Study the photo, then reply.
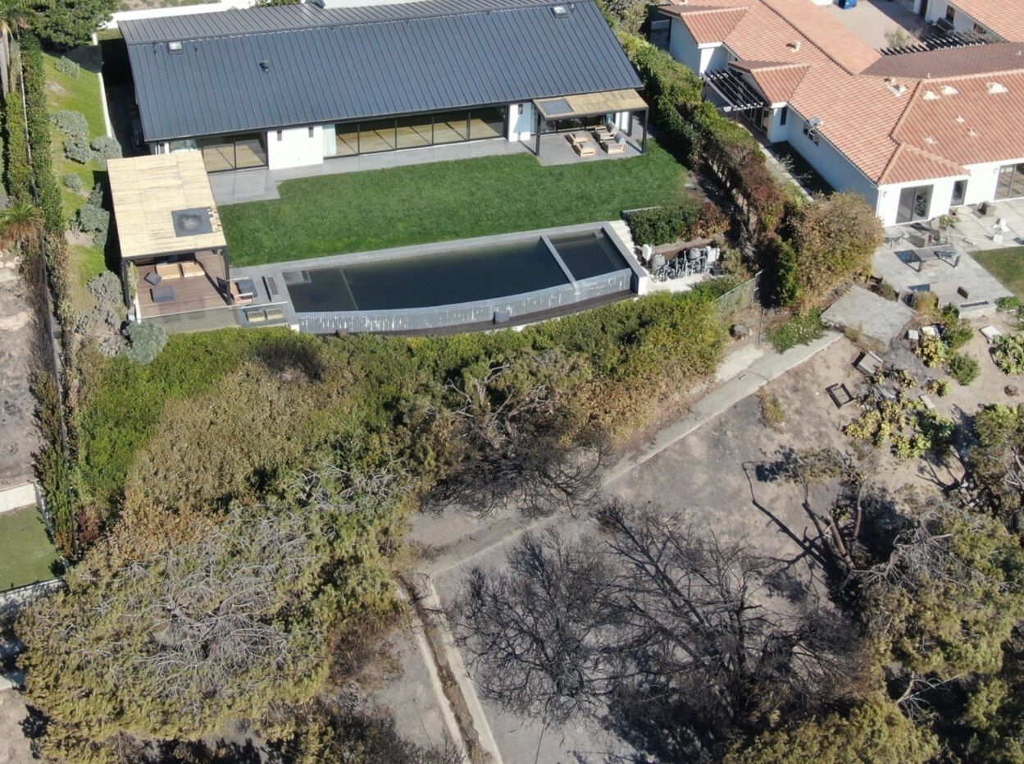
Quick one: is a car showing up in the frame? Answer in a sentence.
No, there is no car in the image.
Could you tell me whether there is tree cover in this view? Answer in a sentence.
Yes, some tree cover is visible.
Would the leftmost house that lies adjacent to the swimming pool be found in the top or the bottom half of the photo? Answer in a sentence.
The leftmost house that lies adjacent to the swimming pool sits in the top half of the picture.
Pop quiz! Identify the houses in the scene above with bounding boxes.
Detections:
[650,0,1024,227]
[119,0,642,172]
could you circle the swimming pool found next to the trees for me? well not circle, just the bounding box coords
[232,220,650,361]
